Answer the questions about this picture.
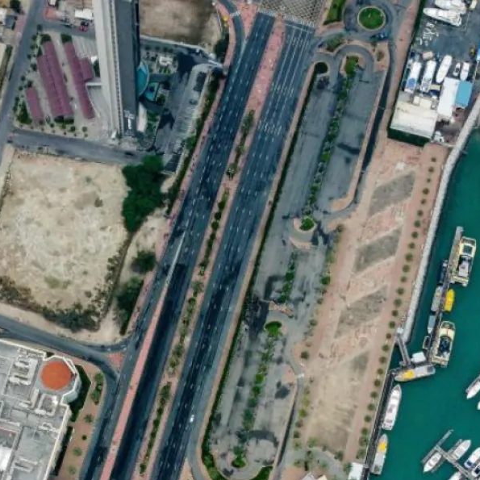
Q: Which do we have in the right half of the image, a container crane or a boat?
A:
boat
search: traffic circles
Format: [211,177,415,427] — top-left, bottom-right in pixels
[345,0,399,41]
